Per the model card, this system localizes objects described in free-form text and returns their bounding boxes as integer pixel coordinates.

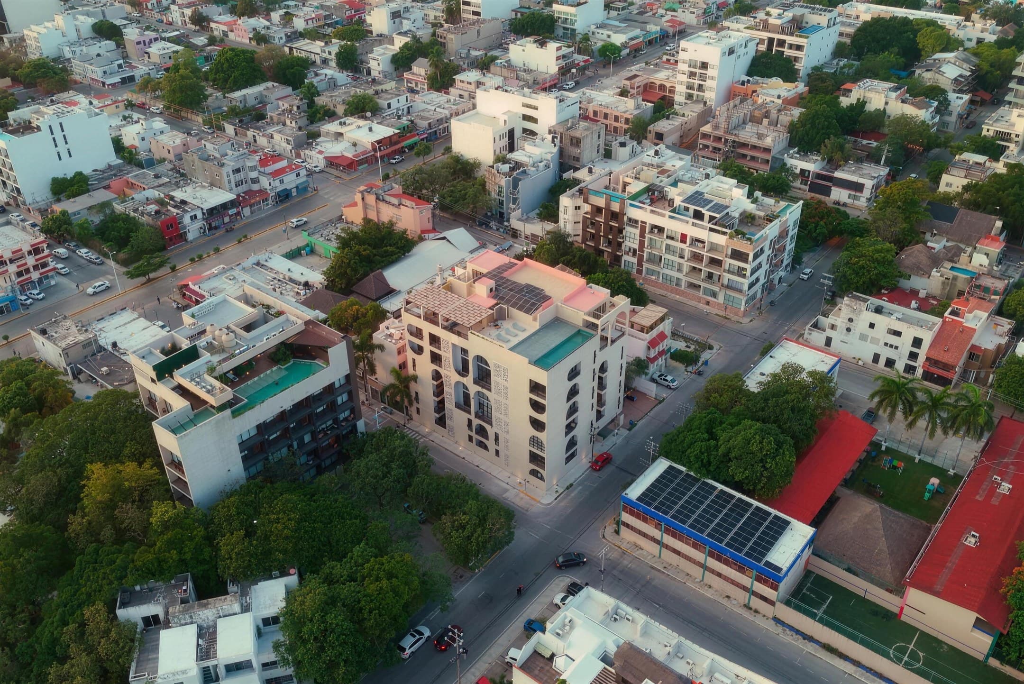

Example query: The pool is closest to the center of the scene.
[530,328,594,370]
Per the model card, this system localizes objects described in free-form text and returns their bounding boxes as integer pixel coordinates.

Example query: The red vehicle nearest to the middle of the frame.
[589,450,614,471]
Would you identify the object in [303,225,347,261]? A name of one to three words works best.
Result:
building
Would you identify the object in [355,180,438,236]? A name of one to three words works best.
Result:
house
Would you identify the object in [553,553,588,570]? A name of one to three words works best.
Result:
car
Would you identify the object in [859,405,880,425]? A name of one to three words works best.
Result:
vehicle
